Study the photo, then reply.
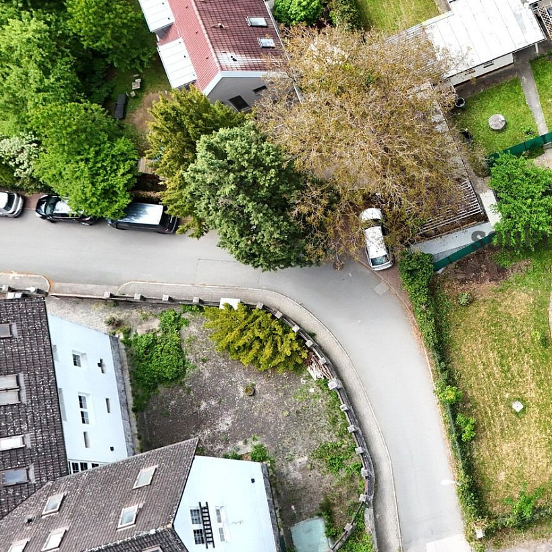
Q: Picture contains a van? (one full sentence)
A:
Yes, a van is visible in the scene.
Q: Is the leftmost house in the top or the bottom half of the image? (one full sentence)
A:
The leftmost house sits in the bottom half of the picture.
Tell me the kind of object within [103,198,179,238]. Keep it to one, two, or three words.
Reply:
van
